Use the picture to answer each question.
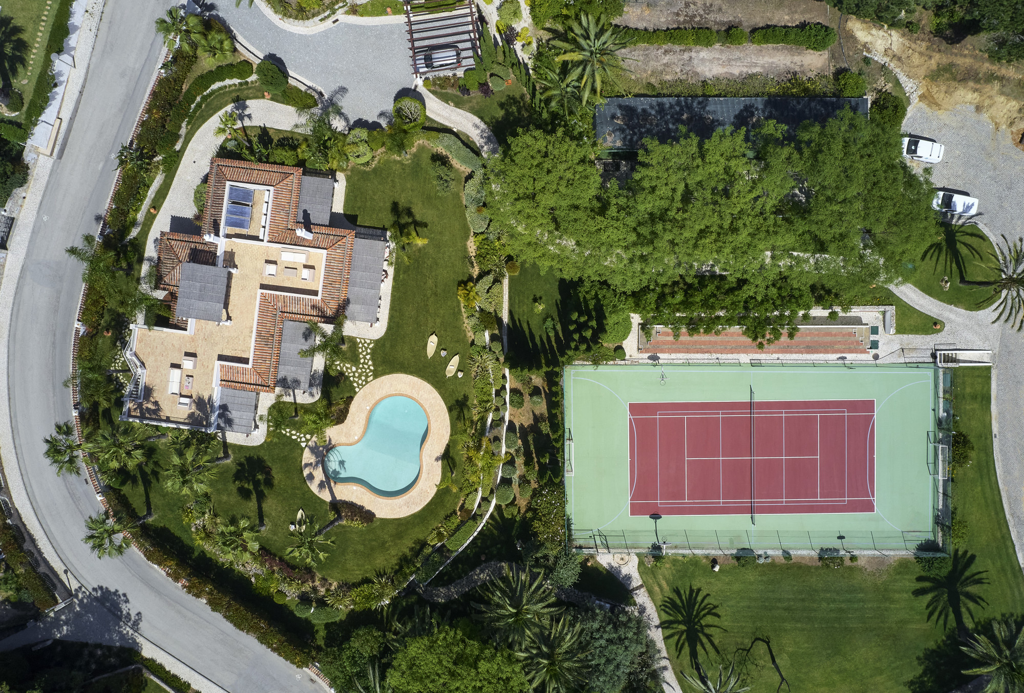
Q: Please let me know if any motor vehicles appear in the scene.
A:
Yes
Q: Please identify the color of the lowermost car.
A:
white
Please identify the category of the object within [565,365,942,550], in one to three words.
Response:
sports court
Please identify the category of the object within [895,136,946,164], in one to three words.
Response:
car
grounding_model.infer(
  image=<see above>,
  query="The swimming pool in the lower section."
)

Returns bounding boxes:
[302,374,450,518]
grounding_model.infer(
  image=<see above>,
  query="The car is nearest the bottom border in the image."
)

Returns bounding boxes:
[929,190,981,216]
